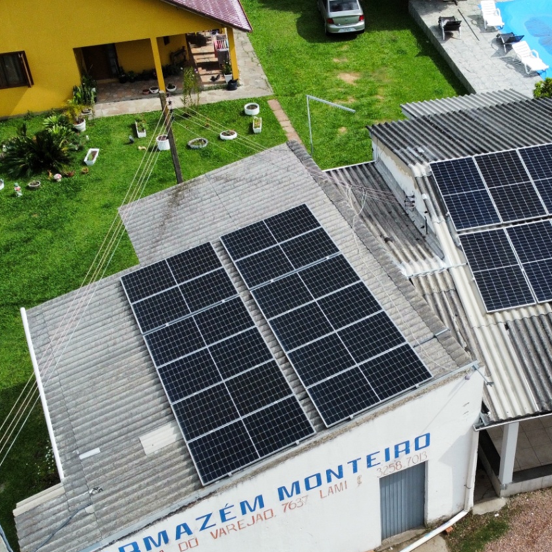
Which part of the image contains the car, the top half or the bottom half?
top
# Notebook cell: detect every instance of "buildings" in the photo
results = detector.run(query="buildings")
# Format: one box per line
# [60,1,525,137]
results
[11,133,512,552]
[0,0,271,119]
